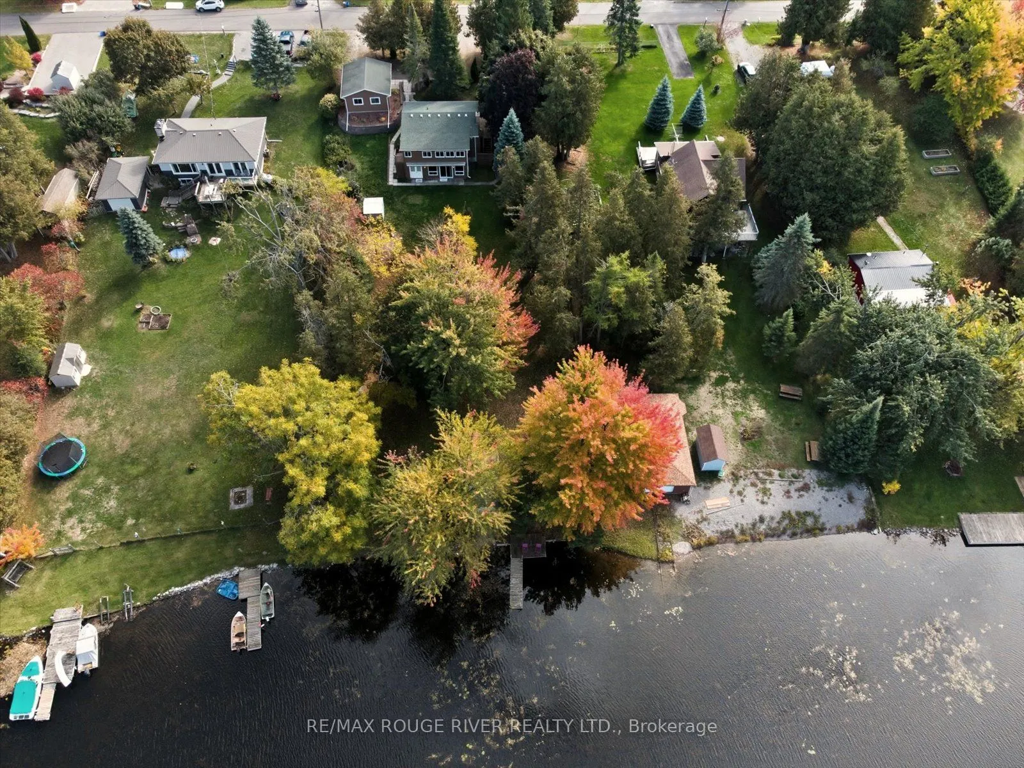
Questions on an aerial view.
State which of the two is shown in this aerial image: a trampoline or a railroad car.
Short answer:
trampoline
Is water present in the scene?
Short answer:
Yes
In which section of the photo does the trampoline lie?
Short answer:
left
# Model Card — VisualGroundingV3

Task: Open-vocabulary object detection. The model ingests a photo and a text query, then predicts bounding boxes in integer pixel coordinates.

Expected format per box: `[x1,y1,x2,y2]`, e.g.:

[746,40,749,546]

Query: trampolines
[33,425,100,481]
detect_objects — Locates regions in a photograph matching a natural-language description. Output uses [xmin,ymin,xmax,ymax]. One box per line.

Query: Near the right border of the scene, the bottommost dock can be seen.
[958,512,1024,548]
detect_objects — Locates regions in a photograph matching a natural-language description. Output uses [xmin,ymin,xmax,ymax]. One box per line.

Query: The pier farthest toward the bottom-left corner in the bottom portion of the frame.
[35,606,85,722]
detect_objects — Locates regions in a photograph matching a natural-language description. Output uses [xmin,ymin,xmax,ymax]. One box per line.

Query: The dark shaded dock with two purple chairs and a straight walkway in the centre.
[493,539,546,610]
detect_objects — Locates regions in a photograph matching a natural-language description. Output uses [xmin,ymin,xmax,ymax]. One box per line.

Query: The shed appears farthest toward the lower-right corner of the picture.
[688,422,728,473]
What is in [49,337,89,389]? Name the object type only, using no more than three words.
shed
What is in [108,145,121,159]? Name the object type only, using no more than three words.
vehicle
